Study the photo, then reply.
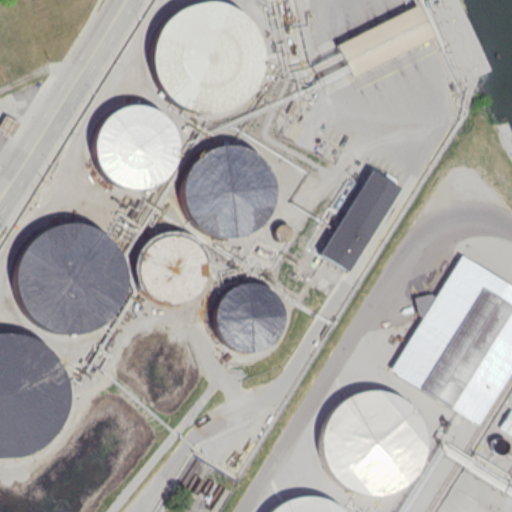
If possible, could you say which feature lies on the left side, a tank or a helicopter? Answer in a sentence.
It is a tank that can be seen on the left side.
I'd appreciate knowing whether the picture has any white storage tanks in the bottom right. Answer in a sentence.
Yes, the scene does show a white storage tank in the bottom right.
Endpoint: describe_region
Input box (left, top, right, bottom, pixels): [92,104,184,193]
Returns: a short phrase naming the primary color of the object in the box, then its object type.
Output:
white storage tank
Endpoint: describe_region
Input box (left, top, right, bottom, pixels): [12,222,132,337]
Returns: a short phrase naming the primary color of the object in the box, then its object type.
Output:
gray storage tank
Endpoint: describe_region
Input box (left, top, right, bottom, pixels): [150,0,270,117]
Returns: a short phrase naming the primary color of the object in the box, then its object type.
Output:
white storage tank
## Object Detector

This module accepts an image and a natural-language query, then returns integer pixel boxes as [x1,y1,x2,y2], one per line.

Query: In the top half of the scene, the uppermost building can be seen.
[336,6,435,78]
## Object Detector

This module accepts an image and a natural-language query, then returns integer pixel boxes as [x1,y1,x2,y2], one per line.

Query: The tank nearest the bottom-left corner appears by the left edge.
[0,332,72,460]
